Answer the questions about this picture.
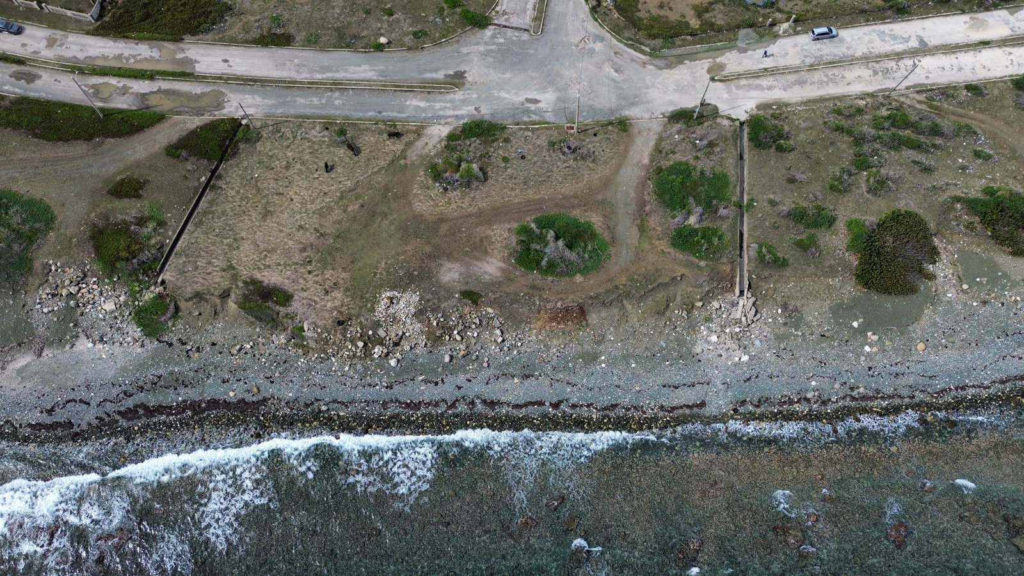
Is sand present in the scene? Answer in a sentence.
Yes, the picture does contain sand.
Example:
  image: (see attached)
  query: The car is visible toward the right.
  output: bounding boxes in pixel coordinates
[808,24,843,42]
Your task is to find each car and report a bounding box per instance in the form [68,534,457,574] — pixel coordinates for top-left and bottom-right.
[808,24,843,42]
[0,20,23,38]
